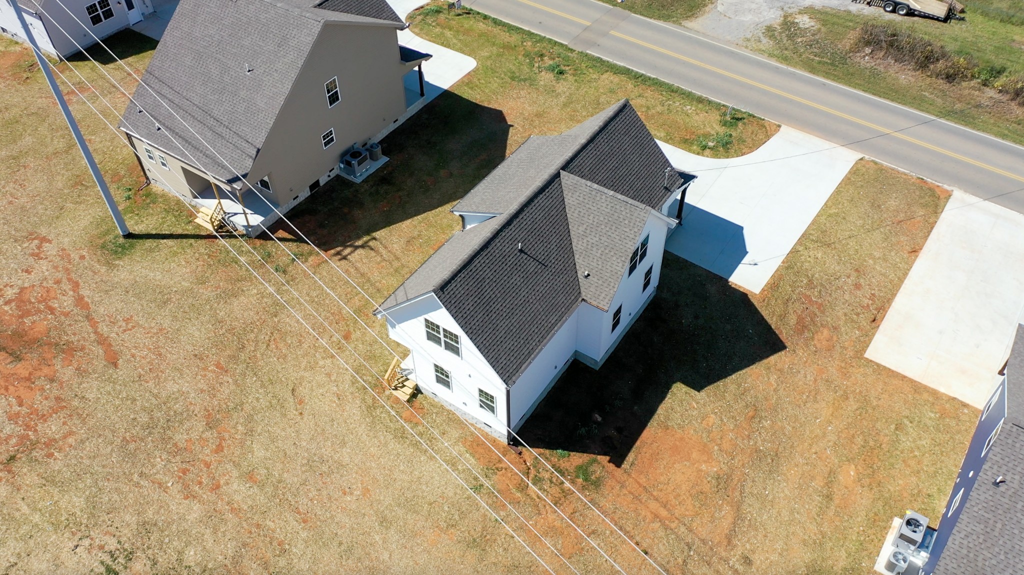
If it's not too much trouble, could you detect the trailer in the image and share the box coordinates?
[866,0,970,26]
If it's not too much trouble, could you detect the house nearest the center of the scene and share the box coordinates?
[372,99,698,446]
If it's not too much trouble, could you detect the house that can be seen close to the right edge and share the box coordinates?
[924,332,1024,575]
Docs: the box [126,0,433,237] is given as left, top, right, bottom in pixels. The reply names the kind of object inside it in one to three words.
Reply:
house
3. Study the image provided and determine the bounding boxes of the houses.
[0,0,153,63]
[126,0,433,237]
[372,99,698,446]
[924,332,1024,575]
